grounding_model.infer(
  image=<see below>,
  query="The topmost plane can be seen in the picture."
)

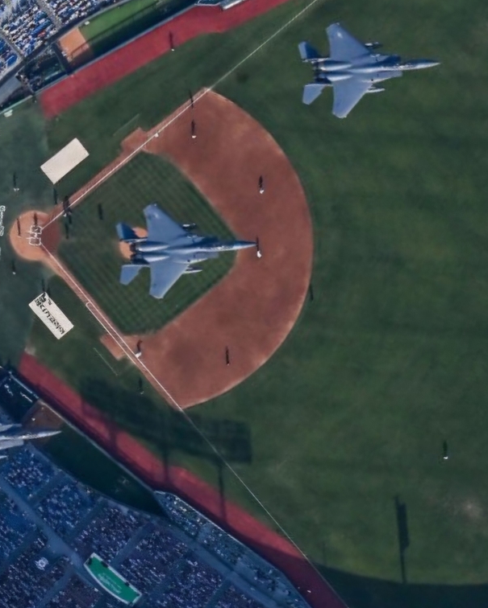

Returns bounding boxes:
[299,24,440,119]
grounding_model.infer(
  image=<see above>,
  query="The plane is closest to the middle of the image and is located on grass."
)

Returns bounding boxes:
[115,206,254,300]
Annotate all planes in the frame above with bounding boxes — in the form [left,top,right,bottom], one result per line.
[0,422,61,464]
[299,24,440,119]
[115,206,254,300]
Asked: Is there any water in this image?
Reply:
No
